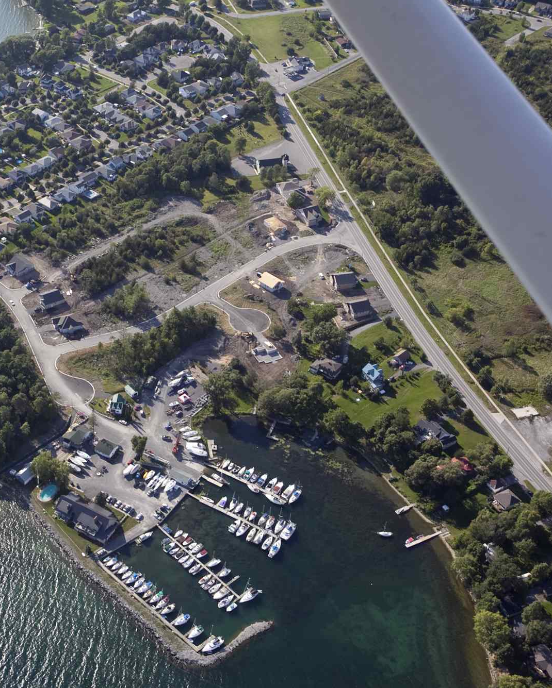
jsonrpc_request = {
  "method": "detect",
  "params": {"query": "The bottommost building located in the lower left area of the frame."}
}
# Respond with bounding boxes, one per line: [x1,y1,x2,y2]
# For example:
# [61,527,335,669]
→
[45,493,127,551]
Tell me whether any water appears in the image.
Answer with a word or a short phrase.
Yes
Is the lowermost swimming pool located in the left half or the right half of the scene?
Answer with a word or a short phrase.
left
